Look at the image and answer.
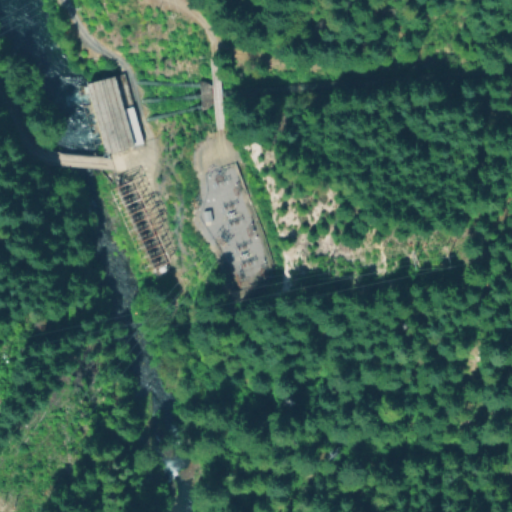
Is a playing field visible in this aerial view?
No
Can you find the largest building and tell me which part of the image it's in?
top left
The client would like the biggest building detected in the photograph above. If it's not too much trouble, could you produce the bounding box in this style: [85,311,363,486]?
[85,77,134,156]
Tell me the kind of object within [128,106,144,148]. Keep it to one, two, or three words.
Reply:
building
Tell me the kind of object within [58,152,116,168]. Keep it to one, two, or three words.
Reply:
bridge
